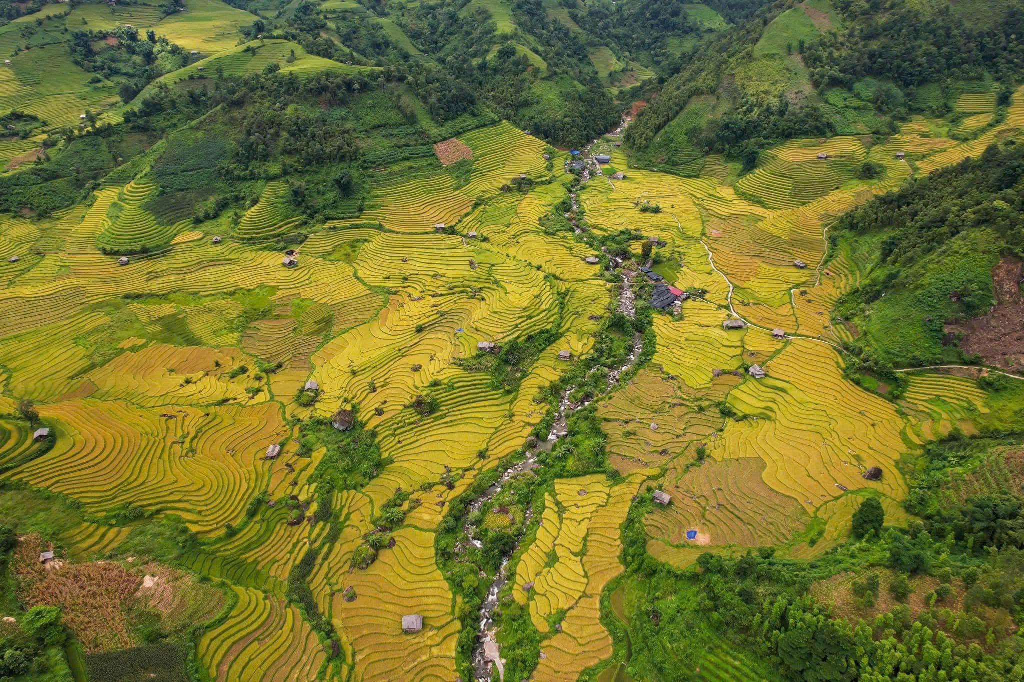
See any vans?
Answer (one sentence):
No, the frame has no van in it.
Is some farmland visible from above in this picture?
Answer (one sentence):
Yes, there is farmland in the image.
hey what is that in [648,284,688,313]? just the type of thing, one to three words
house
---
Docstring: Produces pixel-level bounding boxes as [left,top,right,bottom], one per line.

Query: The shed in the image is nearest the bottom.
[400,611,423,634]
